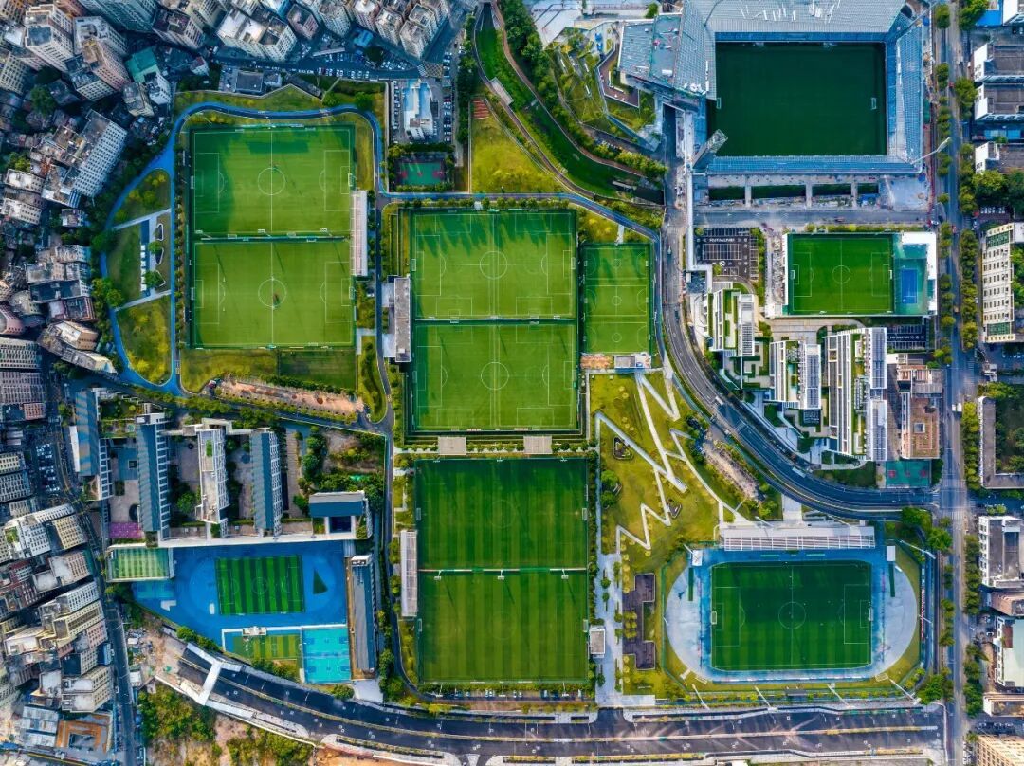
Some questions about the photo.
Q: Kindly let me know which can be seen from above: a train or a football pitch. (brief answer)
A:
football pitch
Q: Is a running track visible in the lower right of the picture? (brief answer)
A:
Yes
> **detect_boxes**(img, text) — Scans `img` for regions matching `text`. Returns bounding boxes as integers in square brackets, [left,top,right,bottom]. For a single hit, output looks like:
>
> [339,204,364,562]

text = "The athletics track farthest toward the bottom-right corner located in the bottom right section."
[665,547,917,684]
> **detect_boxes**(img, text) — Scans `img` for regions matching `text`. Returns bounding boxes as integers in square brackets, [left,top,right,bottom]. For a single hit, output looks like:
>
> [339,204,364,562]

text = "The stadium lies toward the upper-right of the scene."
[618,0,931,177]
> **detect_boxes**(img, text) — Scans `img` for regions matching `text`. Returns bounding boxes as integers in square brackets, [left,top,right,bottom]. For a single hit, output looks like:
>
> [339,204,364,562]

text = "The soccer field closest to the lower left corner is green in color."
[113,549,166,577]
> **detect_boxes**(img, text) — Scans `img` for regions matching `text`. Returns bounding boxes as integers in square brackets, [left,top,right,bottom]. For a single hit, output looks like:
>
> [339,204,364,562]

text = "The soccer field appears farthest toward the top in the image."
[714,43,888,155]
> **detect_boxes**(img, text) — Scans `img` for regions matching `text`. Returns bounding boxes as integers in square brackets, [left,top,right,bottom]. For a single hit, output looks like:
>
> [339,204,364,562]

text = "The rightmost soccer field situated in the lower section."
[711,560,872,671]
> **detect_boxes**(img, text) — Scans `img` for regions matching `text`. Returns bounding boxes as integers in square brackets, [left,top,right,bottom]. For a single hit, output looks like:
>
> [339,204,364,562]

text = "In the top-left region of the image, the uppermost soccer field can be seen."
[192,129,353,234]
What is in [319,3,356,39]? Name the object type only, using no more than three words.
building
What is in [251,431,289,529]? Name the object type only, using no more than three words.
building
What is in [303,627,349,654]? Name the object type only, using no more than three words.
basketball court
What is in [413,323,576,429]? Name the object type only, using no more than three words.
soccer field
